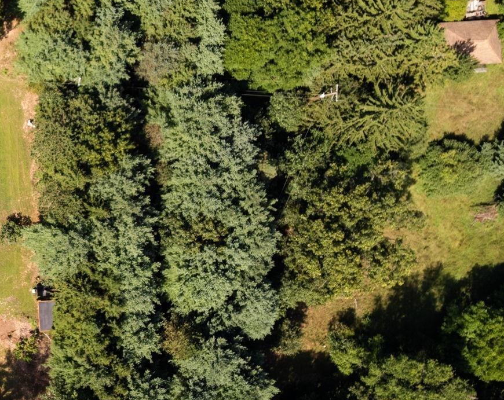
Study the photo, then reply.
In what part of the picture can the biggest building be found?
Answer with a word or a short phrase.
top right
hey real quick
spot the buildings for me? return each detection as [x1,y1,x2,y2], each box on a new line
[431,20,503,65]
[38,300,56,332]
